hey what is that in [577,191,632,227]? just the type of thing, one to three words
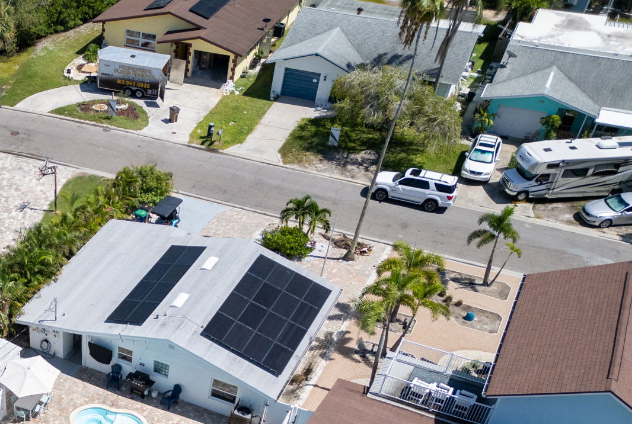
car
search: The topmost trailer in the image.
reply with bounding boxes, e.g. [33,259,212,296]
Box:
[92,47,181,98]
